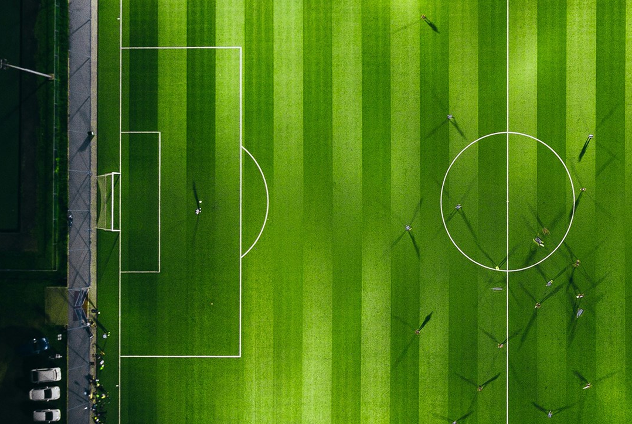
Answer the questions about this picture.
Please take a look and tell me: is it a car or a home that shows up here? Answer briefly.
car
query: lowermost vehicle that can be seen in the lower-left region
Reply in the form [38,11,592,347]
[31,409,62,424]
